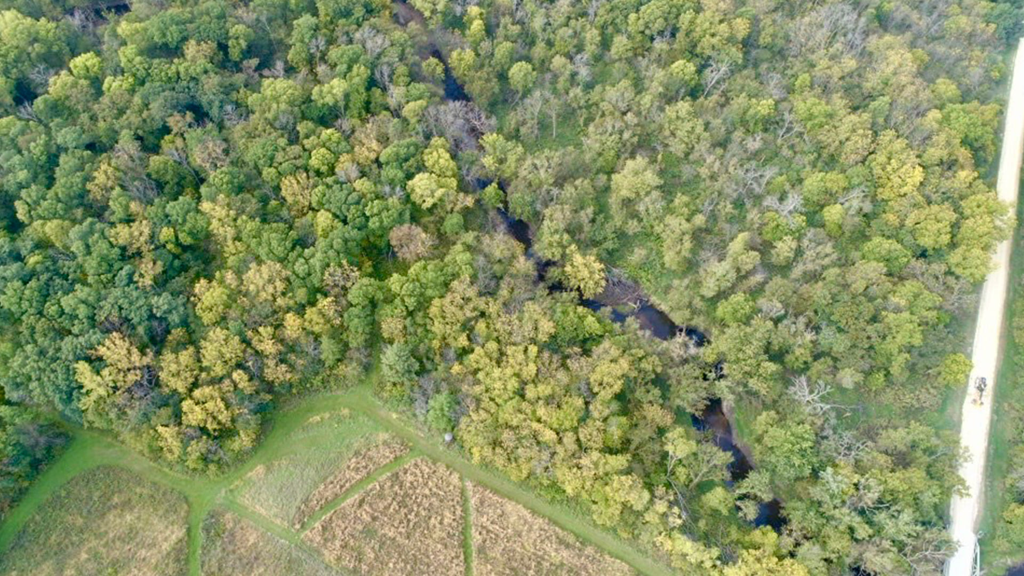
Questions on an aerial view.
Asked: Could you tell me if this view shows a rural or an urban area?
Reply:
rural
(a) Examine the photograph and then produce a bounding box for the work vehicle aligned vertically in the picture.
[971,377,990,408]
